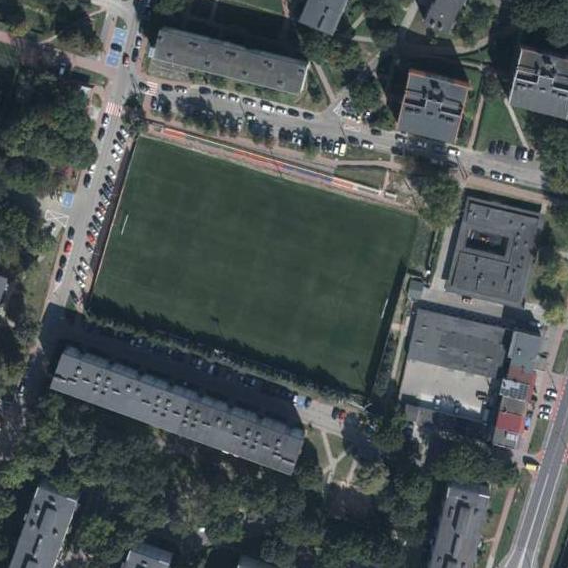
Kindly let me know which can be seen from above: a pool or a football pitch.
football pitch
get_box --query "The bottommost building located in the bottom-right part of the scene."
[430,485,493,568]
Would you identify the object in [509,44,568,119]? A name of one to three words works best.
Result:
building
